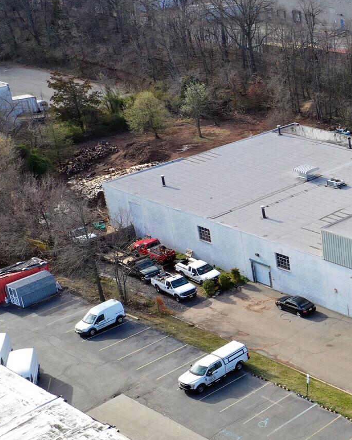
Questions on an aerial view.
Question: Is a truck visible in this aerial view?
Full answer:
Yes, I can see a truck in this picture.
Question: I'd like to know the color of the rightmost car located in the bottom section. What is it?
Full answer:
The rightmost car located in the bottom section is black.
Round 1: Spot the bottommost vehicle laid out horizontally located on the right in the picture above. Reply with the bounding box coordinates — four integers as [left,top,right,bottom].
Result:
[273,294,316,316]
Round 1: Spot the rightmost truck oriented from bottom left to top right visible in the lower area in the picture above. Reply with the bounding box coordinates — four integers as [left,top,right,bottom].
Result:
[173,338,249,394]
